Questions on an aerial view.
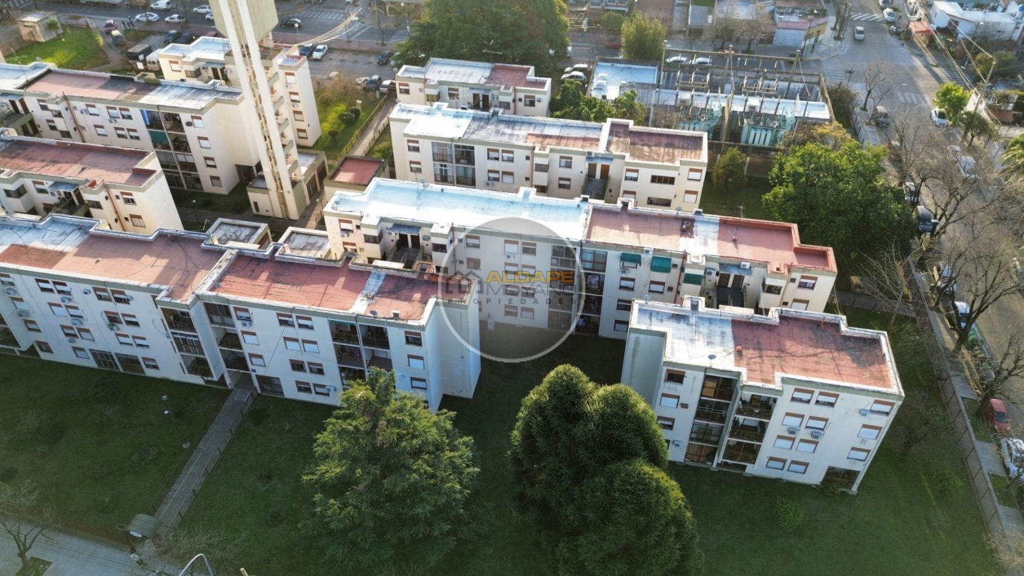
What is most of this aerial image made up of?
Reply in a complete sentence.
The bulk of the photo consists of buildings.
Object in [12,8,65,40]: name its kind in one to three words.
shed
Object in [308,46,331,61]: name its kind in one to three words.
car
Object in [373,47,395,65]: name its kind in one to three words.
car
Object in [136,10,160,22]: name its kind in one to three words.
vehicle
